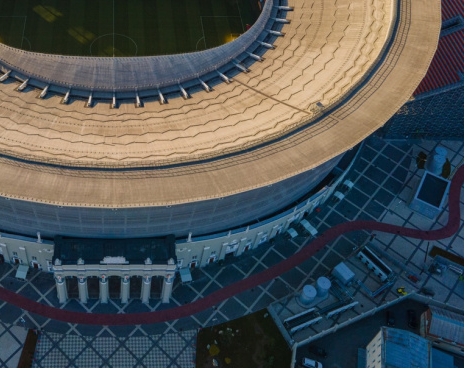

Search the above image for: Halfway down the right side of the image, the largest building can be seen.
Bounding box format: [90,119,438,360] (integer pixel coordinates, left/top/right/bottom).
[410,169,451,218]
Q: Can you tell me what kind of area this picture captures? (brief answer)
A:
sports ground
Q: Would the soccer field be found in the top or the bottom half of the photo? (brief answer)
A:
top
